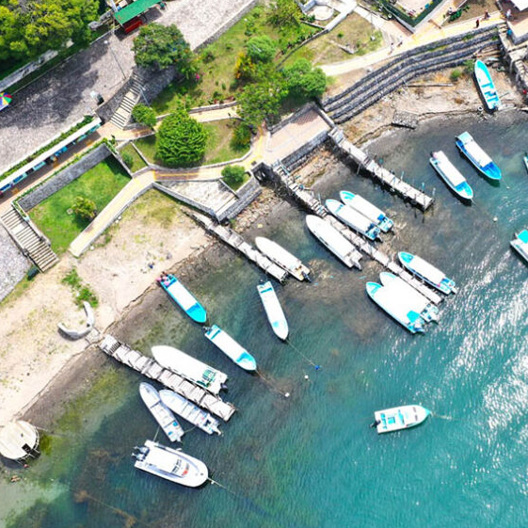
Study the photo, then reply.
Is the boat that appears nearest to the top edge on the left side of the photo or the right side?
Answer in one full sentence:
It is on the right.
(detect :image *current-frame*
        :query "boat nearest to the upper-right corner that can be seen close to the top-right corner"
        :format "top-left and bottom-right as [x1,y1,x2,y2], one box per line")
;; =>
[474,60,502,119]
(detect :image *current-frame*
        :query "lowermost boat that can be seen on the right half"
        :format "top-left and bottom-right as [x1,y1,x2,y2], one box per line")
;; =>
[369,404,431,438]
